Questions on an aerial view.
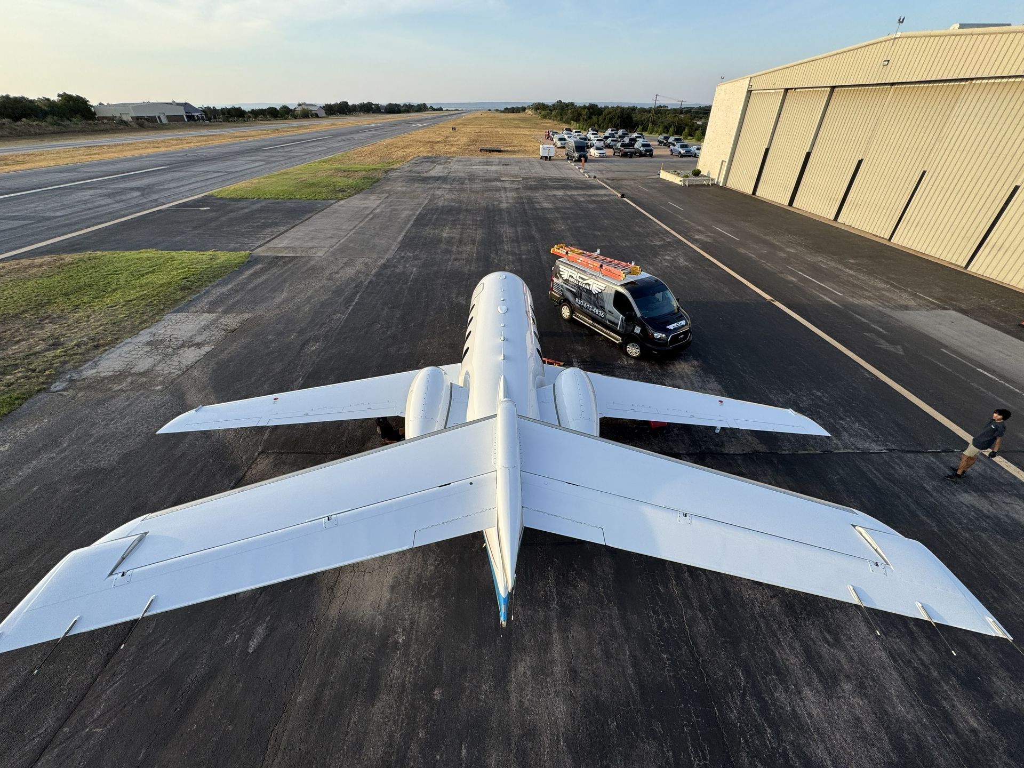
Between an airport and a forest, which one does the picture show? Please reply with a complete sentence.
The picture captures an airport.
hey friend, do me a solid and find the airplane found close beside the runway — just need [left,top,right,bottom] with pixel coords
[0,268,1024,680]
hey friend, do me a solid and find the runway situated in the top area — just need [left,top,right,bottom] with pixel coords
[0,110,484,254]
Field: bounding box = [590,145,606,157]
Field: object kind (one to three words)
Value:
vehicle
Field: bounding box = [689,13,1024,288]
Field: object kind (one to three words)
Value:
hangar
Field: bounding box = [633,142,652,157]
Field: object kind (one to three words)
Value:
car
